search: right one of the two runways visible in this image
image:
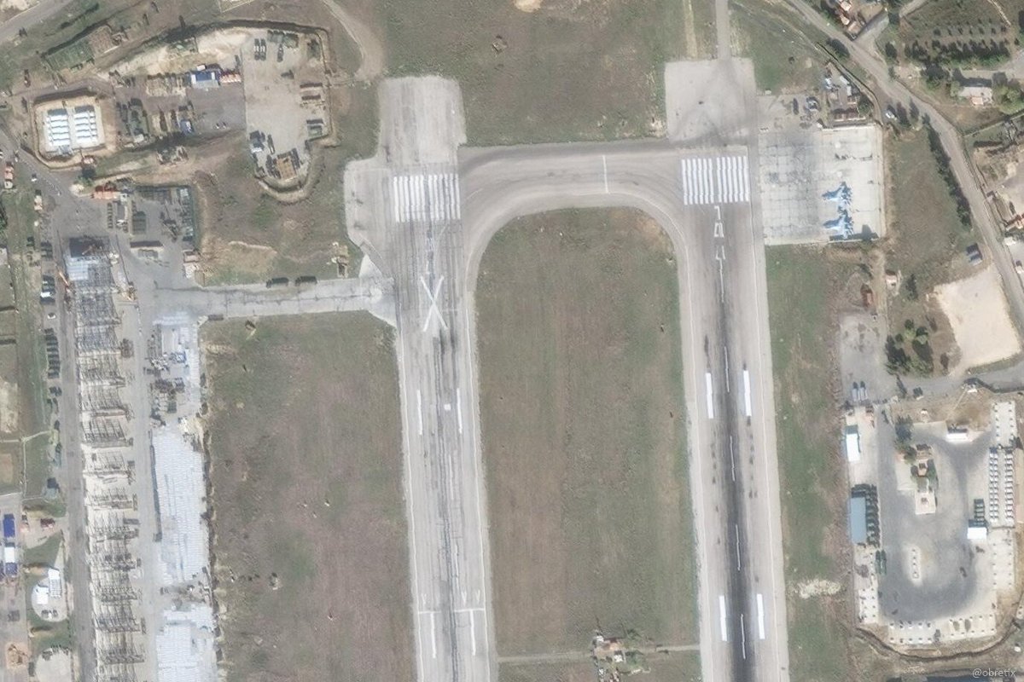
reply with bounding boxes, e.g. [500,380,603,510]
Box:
[657,129,789,682]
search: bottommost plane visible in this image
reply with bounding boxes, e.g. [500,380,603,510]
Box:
[824,215,855,238]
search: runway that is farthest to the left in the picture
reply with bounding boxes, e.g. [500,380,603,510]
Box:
[391,146,498,682]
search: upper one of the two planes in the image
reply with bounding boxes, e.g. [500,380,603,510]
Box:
[823,186,854,209]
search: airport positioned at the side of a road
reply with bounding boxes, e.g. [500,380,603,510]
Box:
[73,57,887,682]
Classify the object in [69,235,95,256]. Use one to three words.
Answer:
building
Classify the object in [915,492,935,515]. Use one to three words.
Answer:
building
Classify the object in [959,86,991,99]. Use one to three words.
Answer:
house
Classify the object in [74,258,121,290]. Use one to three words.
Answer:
hangar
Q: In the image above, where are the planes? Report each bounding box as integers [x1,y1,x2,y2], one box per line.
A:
[823,186,854,209]
[824,215,855,238]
